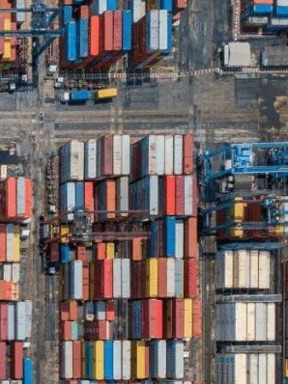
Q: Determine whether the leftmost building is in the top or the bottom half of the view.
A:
top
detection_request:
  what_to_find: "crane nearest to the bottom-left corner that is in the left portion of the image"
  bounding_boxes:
[41,208,156,248]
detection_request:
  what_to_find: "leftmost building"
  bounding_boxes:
[224,39,261,67]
